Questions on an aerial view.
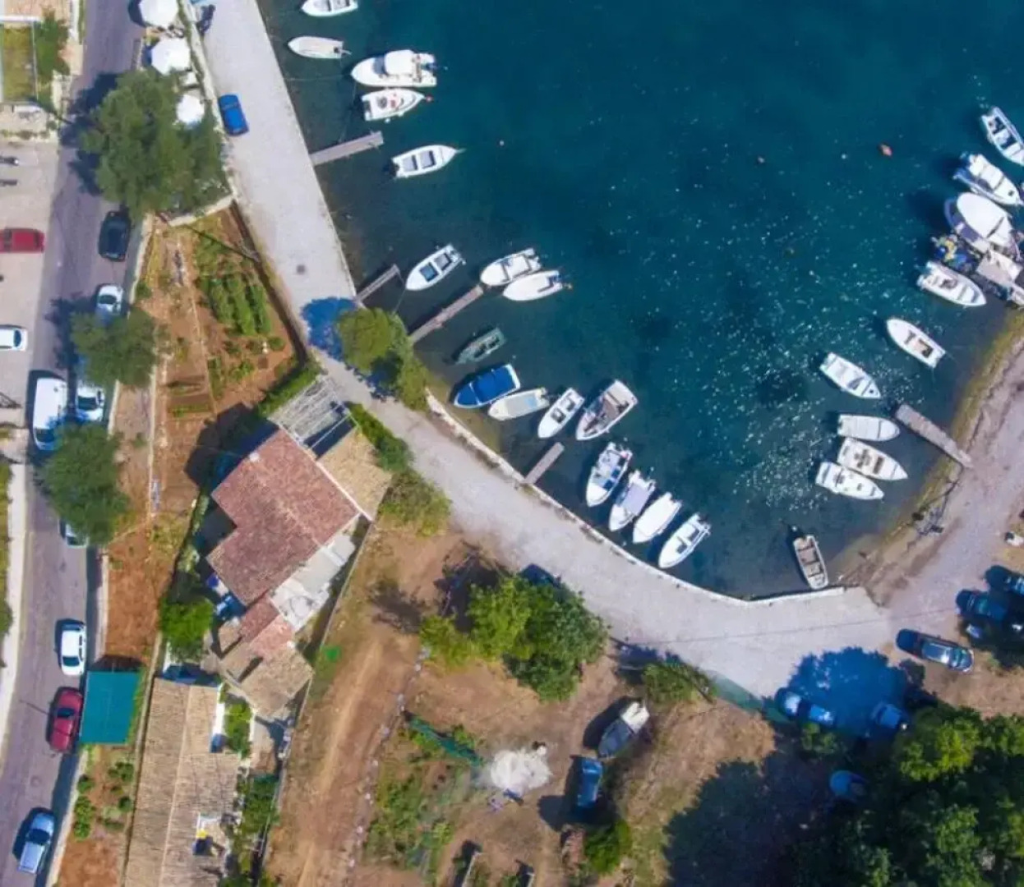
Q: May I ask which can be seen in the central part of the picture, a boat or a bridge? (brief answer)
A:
boat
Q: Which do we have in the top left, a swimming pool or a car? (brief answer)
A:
car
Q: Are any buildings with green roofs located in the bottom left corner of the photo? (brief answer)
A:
No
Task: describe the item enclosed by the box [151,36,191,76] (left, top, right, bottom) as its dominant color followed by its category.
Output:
white umbrella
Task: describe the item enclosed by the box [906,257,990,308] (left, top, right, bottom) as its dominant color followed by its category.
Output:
white boat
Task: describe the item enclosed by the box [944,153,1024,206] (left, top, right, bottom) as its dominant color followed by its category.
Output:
white boat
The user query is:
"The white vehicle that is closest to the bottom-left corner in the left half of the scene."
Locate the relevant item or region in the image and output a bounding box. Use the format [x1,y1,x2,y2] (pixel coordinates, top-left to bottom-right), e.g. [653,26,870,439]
[58,620,90,675]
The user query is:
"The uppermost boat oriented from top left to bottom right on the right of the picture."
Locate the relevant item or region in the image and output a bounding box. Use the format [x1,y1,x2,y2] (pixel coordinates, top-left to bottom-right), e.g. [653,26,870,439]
[971,98,1024,166]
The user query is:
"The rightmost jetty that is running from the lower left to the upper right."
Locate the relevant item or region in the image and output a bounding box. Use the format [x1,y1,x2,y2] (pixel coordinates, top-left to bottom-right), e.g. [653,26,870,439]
[520,442,567,488]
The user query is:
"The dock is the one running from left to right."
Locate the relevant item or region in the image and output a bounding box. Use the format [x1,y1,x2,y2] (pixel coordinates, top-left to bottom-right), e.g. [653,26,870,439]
[308,129,385,163]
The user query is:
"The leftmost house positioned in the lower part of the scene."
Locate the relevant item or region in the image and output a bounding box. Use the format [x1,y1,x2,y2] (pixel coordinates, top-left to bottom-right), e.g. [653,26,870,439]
[123,674,239,887]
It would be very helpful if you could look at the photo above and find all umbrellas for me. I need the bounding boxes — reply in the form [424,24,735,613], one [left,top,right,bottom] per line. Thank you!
[177,96,207,126]
[151,36,191,76]
[138,0,180,28]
